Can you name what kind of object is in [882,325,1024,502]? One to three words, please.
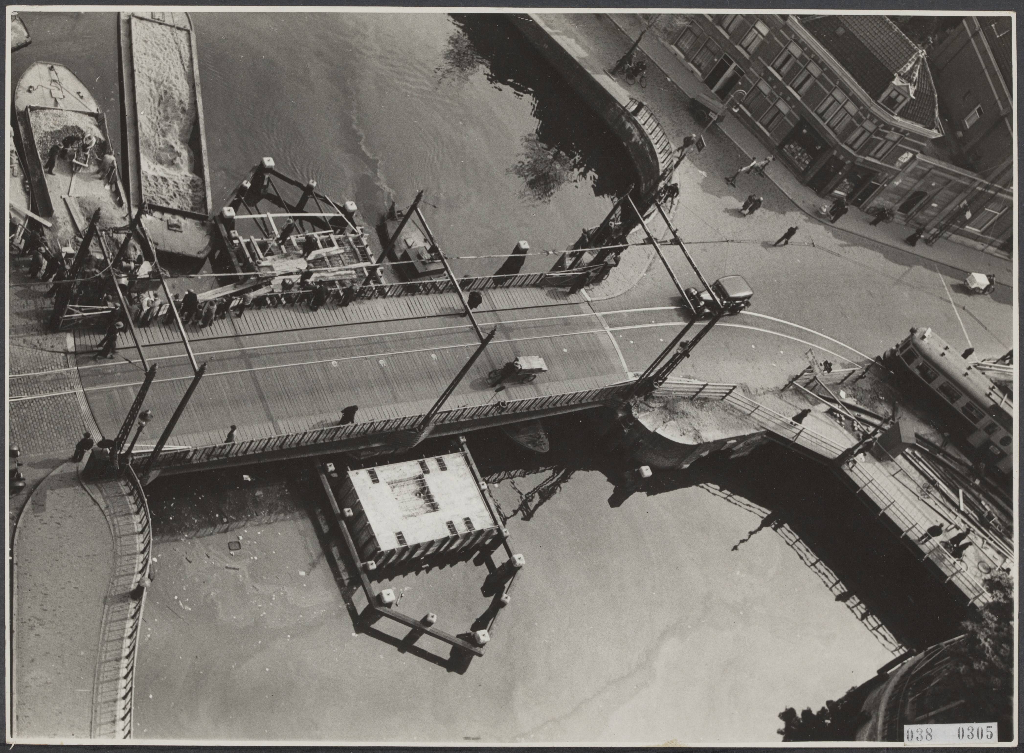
train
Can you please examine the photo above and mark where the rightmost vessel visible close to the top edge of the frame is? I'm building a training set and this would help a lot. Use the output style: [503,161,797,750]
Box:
[114,0,214,267]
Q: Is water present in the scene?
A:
Yes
